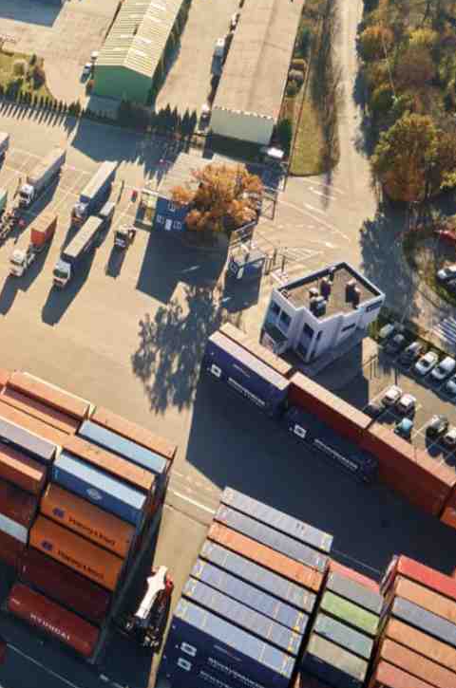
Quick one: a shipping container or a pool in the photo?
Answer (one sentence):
Looking from above, you can make out a shipping container.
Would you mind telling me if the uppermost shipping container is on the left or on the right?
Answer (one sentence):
The uppermost shipping container sits on the left side.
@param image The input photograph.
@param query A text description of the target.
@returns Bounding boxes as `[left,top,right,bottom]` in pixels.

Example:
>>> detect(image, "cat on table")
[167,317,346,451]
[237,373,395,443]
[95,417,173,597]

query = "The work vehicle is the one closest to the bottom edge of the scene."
[106,563,190,649]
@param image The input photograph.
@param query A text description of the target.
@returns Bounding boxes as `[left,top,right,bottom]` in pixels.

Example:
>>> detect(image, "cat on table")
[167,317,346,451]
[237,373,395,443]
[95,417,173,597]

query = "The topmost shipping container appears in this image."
[29,210,59,245]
